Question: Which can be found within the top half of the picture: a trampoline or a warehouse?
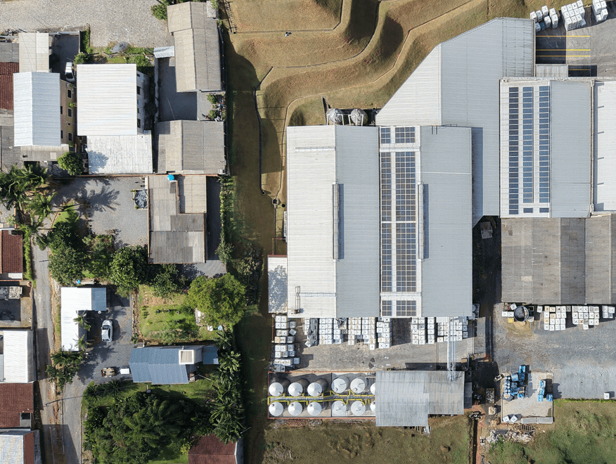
warehouse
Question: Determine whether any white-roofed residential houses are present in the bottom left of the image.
Yes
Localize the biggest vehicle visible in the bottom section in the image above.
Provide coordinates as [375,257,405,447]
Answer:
[101,320,114,342]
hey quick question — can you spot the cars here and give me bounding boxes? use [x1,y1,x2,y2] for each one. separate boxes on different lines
[62,59,77,80]
[101,320,114,342]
